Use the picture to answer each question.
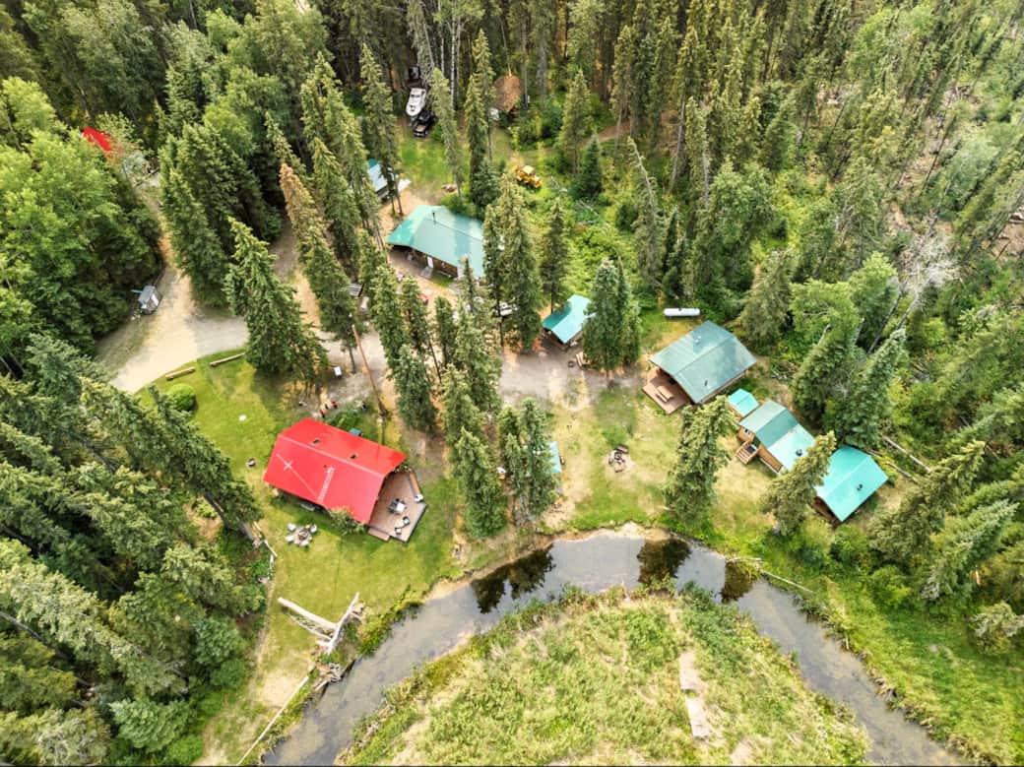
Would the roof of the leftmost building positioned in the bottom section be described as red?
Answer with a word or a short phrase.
Yes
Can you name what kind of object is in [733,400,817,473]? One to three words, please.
building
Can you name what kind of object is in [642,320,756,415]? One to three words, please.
building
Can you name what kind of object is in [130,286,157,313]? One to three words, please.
shed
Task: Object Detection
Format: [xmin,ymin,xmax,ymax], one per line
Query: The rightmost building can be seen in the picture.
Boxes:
[812,447,888,532]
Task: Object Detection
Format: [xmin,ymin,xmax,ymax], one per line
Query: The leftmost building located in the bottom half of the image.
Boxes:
[265,418,428,543]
